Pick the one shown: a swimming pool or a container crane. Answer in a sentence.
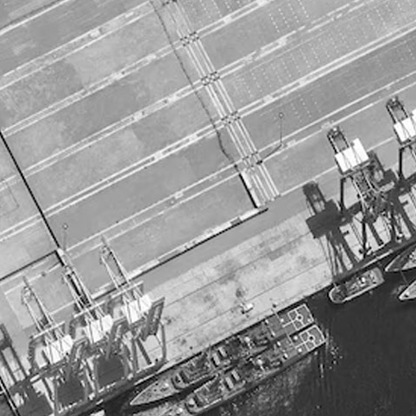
Visible in the photo is a container crane.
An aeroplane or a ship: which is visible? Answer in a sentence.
This aerial view contains a ship.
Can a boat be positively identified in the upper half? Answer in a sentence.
No, looking in the upper half, there is no boat.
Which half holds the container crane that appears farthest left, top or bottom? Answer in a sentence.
The container crane that appears farthest left sits in the bottom half of the picture.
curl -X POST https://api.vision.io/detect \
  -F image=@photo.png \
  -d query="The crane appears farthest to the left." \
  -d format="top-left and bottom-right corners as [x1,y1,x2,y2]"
[11,277,88,416]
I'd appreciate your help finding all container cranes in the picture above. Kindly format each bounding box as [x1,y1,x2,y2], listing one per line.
[53,256,129,397]
[93,235,168,378]
[384,94,416,199]
[324,127,401,259]
[11,277,88,416]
